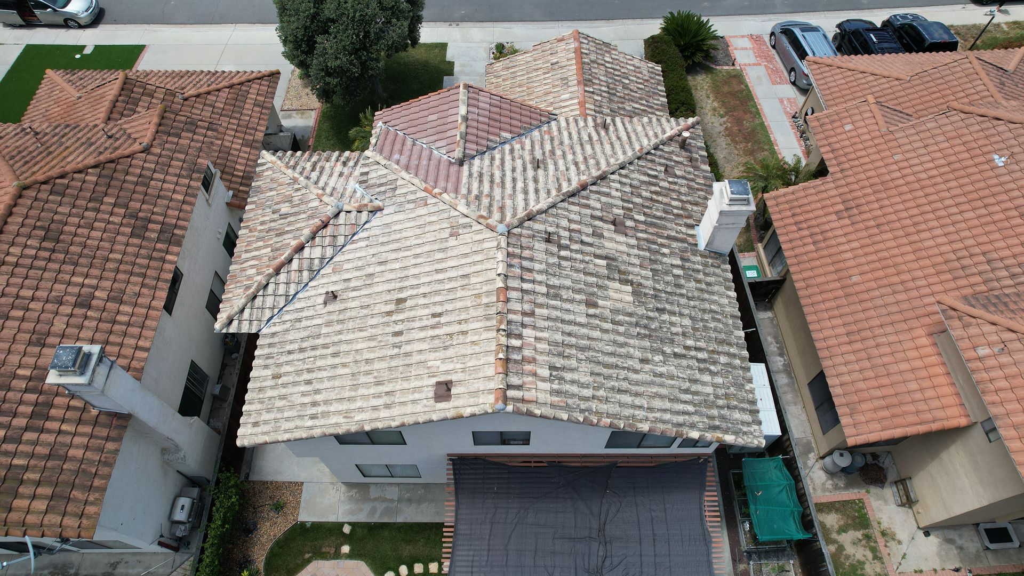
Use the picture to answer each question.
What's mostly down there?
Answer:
buildings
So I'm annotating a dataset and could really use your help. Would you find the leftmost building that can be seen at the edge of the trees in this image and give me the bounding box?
[0,65,287,556]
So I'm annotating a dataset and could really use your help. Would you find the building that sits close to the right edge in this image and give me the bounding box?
[752,45,1024,526]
